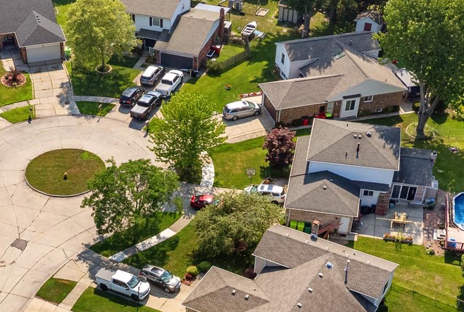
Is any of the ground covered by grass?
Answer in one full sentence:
Yes, grass shows up in the scene.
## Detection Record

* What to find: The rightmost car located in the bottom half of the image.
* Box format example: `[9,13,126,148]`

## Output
[244,183,285,204]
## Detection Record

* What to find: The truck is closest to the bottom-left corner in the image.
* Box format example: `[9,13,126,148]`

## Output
[97,270,150,304]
